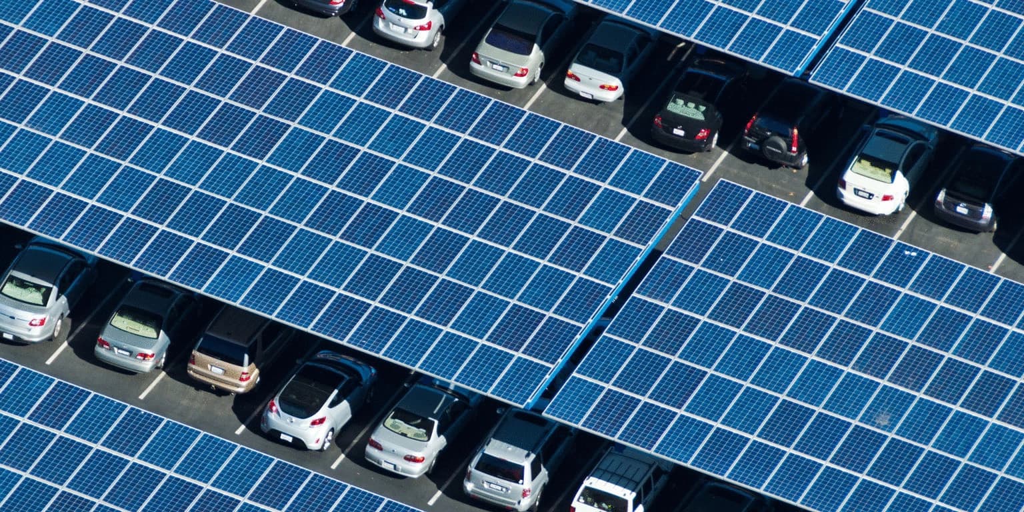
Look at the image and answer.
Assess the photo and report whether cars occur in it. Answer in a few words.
Yes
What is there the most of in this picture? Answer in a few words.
buildings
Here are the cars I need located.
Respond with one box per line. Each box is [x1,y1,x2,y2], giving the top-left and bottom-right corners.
[0,237,112,347]
[469,0,582,90]
[287,0,356,17]
[934,140,1024,233]
[263,350,377,453]
[649,52,761,154]
[561,13,663,102]
[463,396,588,512]
[92,274,213,376]
[836,115,944,217]
[741,69,848,168]
[567,439,682,512]
[186,302,305,393]
[683,474,777,512]
[362,372,482,481]
[377,0,478,51]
